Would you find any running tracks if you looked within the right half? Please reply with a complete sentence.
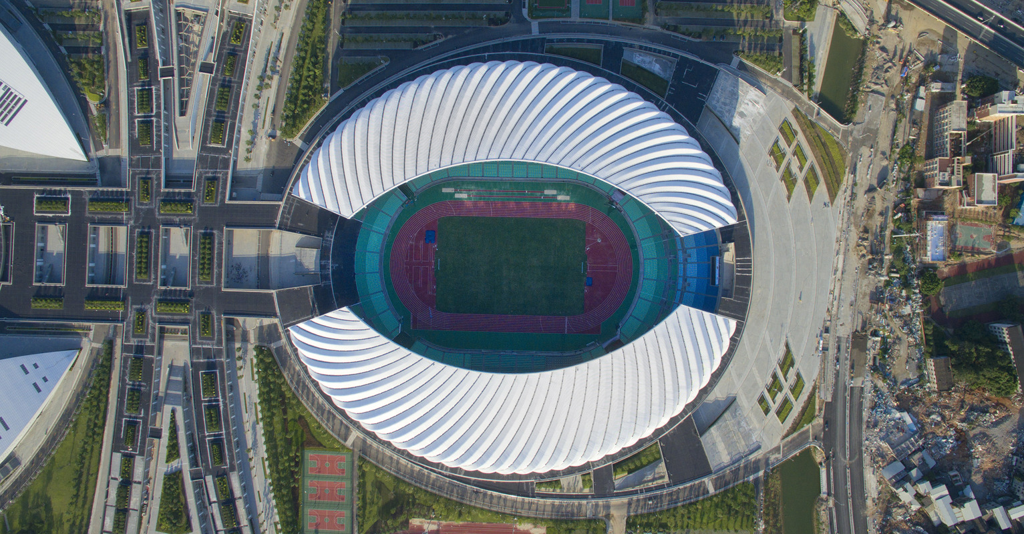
Yes, a running track shows up within the right half.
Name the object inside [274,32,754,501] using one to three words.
stadium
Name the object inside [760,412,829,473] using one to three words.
bridge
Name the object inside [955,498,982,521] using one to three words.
house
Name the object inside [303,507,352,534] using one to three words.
basketball court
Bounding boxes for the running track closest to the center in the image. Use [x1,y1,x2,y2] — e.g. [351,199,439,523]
[390,200,631,335]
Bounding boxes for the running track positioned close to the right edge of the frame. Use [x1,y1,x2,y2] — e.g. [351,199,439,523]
[932,249,1024,325]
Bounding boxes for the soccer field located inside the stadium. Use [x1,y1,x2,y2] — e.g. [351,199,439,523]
[436,217,586,316]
